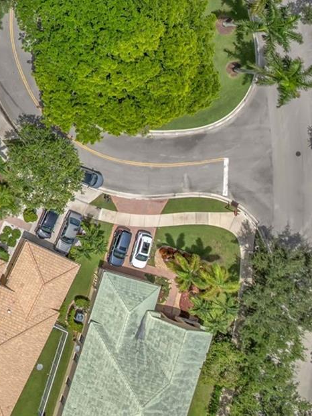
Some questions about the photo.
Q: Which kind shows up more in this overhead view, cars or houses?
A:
cars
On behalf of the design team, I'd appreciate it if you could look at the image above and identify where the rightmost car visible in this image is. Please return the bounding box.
[126,226,156,270]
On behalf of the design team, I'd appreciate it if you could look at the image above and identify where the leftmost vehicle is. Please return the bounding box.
[34,202,62,245]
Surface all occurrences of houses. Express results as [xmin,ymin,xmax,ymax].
[0,238,81,416]
[52,267,211,416]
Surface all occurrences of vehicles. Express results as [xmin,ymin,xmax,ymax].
[105,224,134,268]
[126,226,156,270]
[69,166,111,190]
[34,202,62,245]
[52,207,87,258]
